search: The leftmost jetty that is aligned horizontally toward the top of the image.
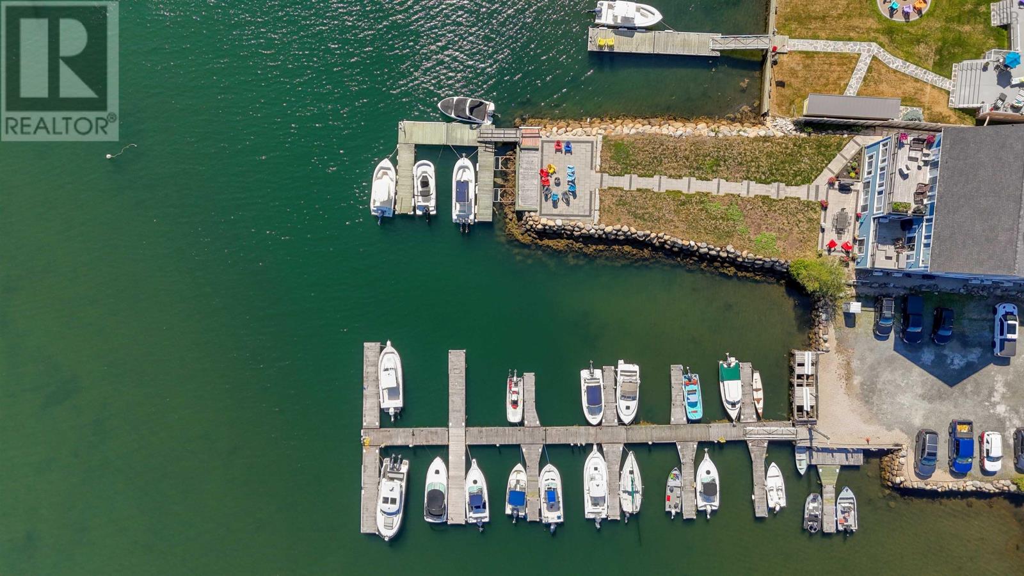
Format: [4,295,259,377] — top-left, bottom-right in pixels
[398,121,495,146]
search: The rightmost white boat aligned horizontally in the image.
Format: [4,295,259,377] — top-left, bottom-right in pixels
[581,0,675,31]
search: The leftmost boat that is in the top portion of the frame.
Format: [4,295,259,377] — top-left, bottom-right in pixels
[370,148,399,228]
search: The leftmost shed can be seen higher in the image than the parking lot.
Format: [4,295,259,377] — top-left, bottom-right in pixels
[802,93,900,121]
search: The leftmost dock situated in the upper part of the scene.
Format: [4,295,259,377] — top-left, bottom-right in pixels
[395,144,416,215]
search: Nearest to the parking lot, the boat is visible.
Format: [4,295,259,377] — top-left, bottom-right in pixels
[795,447,808,475]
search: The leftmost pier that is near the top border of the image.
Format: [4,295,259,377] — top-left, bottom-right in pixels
[588,26,722,57]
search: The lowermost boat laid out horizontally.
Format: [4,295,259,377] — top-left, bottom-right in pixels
[438,98,505,125]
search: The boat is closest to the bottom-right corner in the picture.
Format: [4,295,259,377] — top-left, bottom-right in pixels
[837,487,857,537]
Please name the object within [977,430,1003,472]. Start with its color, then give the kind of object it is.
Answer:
white car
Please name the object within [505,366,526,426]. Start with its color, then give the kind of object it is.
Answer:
white boat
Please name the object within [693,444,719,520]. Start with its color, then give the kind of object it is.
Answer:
white boat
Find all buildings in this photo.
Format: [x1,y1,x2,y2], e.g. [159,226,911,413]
[854,123,1024,280]
[802,93,900,121]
